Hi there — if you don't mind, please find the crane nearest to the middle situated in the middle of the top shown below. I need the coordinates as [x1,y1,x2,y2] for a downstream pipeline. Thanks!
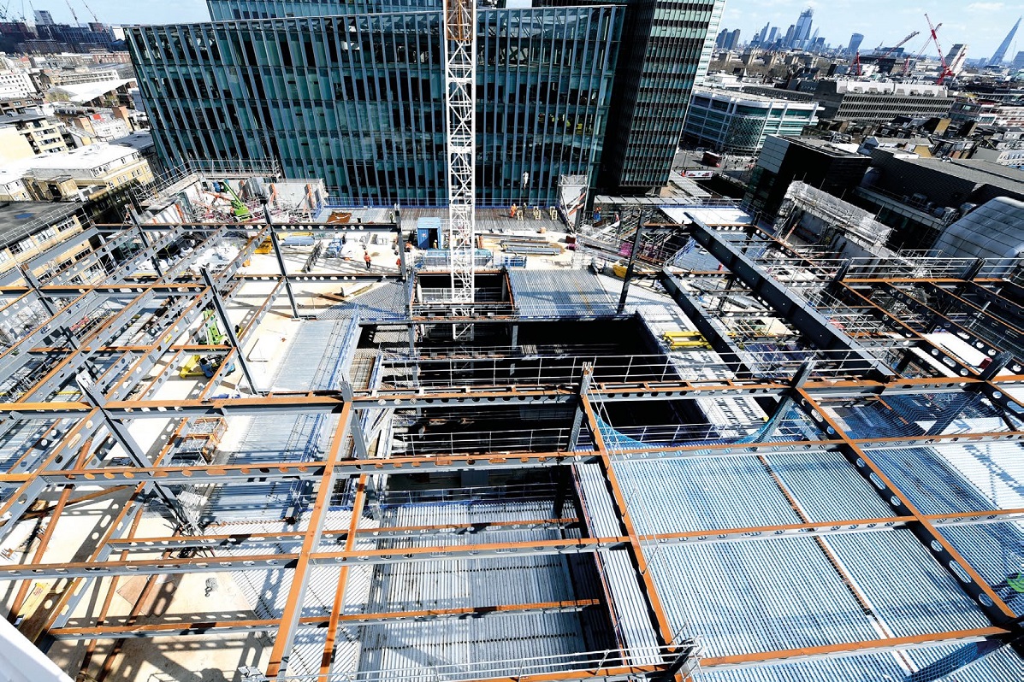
[442,0,480,358]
